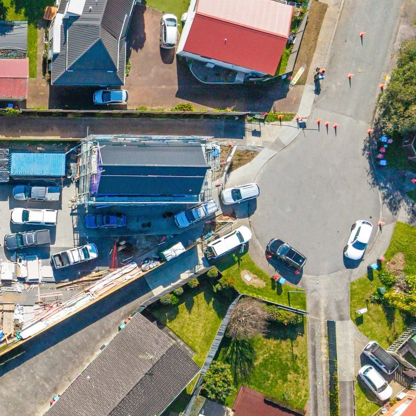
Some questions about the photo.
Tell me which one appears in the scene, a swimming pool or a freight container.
freight container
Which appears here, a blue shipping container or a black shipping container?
blue shipping container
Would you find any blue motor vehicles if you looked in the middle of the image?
Yes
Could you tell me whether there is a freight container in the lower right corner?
No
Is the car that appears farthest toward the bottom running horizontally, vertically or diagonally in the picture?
diagonally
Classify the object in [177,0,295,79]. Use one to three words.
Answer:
house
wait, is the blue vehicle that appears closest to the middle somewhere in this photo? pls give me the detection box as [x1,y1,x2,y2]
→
[171,196,222,229]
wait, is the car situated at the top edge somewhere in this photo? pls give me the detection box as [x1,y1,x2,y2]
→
[158,13,180,49]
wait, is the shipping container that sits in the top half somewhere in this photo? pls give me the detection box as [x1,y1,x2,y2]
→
[7,153,67,178]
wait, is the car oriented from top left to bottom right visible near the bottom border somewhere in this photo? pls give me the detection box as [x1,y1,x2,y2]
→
[357,363,395,402]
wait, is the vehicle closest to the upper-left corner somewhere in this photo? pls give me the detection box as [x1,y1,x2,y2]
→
[92,87,129,106]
